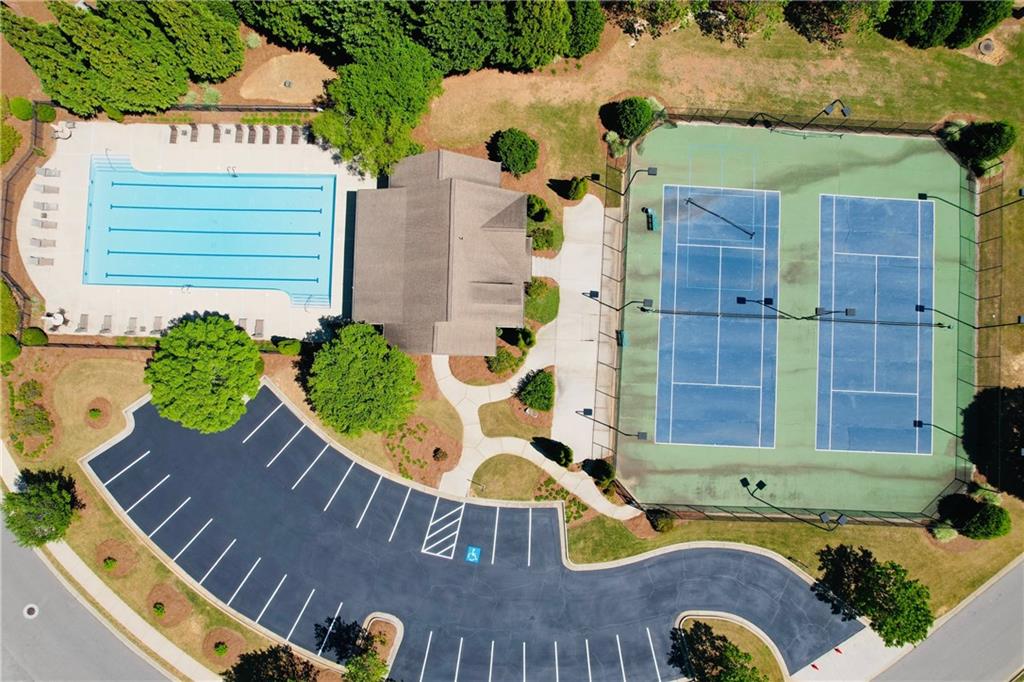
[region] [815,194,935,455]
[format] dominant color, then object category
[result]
blue tennis court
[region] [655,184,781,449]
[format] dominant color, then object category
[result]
blue tennis court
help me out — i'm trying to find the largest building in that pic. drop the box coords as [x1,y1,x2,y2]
[350,151,533,357]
